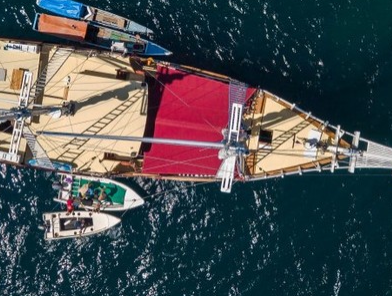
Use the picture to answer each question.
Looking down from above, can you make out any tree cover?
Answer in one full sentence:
No, tree cover can't be seen anywhere here.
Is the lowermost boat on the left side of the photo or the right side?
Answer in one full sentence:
The lowermost boat is on the left side of the image.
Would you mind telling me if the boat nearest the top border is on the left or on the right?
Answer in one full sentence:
It is on the left.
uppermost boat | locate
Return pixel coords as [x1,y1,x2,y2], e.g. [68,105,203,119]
[35,0,155,34]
